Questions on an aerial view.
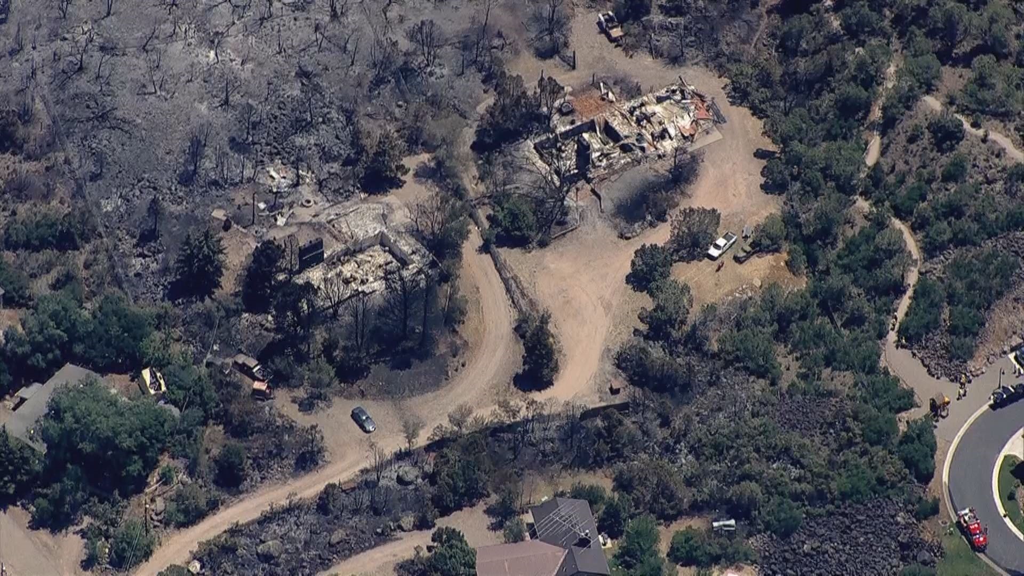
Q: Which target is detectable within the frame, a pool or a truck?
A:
truck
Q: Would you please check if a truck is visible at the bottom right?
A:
Yes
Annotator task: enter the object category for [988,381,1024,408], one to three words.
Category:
car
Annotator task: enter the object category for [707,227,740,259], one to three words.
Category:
truck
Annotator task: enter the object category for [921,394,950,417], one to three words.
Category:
work vehicle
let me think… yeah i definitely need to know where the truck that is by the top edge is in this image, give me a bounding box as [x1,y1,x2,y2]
[594,7,626,42]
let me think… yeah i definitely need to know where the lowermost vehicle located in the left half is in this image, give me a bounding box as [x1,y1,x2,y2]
[349,403,378,431]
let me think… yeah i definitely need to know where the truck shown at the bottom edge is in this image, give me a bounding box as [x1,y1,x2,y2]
[957,503,991,550]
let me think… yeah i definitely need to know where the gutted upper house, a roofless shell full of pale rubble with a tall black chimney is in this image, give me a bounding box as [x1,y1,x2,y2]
[518,75,723,192]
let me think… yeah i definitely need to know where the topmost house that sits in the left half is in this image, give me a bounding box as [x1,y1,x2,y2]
[284,200,443,306]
